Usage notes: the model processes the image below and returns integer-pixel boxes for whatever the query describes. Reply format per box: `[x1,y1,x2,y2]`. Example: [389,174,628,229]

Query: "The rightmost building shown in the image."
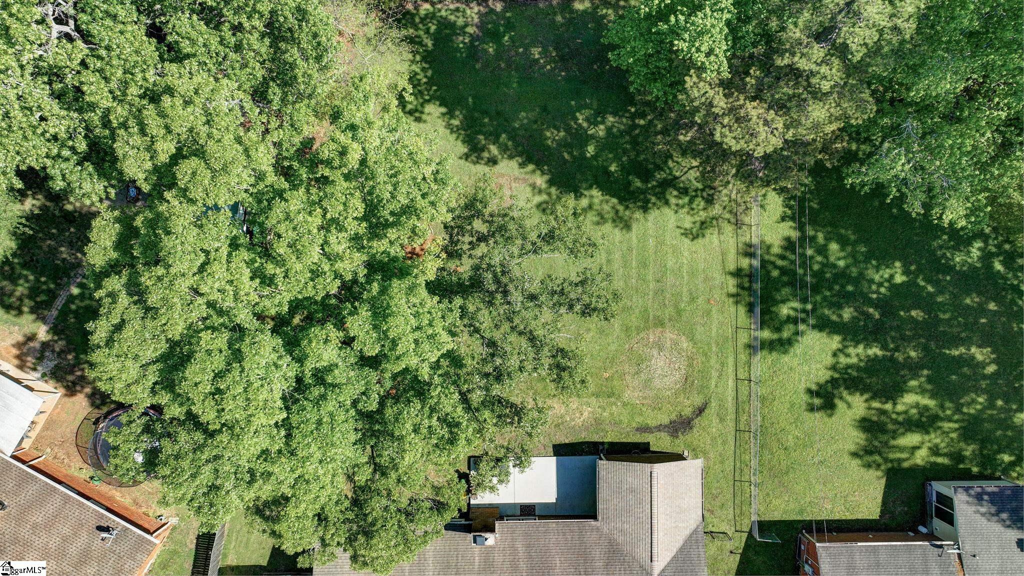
[801,475,1024,576]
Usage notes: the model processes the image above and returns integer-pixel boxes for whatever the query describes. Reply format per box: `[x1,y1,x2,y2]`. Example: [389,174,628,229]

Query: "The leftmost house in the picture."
[0,374,179,576]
